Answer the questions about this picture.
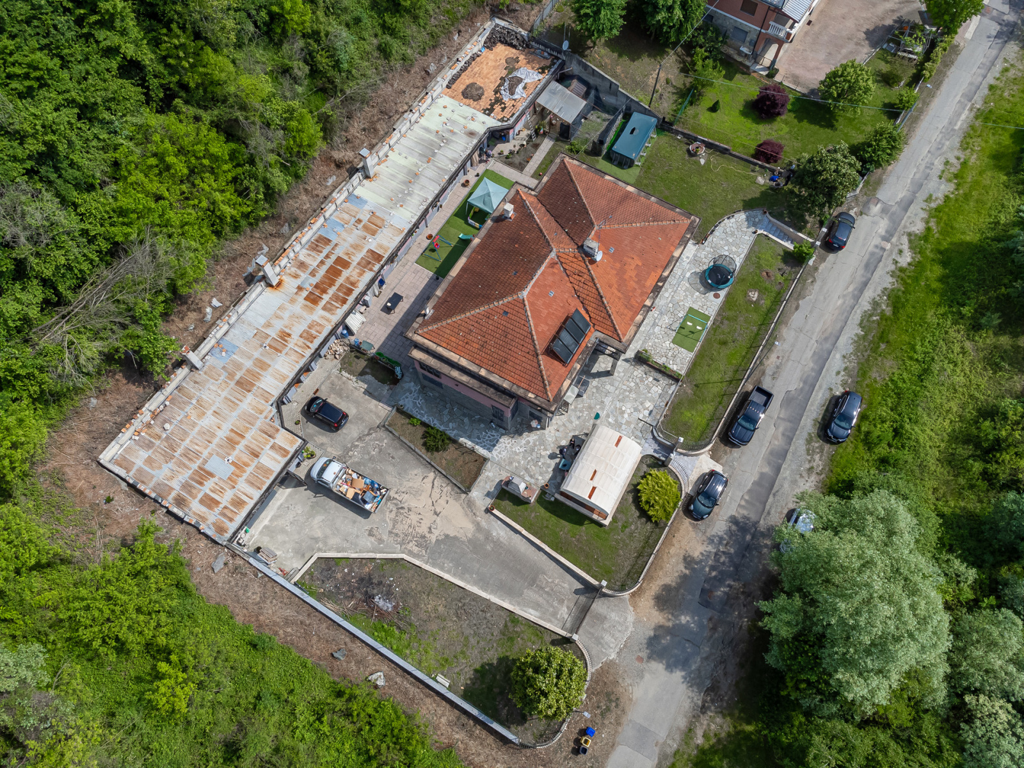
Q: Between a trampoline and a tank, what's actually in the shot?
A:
trampoline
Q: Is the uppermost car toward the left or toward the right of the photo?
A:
right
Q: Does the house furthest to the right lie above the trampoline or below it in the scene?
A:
above it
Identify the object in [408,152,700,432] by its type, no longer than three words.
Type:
house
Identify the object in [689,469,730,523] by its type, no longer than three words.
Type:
car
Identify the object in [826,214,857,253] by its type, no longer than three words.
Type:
car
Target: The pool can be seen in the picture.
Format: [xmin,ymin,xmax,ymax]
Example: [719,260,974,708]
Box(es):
[611,112,657,167]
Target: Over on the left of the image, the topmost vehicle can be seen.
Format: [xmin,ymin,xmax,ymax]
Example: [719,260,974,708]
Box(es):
[306,399,349,430]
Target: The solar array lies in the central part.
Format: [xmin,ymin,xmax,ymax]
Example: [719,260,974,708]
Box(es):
[541,308,592,365]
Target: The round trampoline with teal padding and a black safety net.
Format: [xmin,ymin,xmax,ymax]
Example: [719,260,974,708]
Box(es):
[706,255,740,291]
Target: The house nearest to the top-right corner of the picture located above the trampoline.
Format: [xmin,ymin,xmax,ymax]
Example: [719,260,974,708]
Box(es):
[701,0,812,74]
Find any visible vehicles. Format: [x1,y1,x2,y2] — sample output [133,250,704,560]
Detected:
[310,456,390,514]
[728,384,777,449]
[306,399,349,430]
[689,469,730,523]
[826,390,865,444]
[826,214,857,253]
